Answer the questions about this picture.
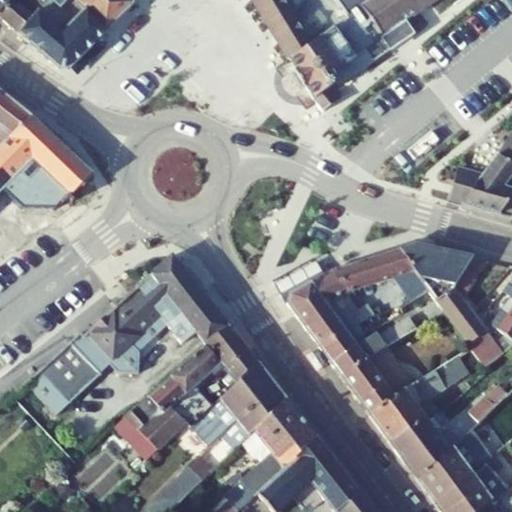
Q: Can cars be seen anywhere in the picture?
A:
Yes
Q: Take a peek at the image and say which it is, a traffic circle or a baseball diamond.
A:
traffic circle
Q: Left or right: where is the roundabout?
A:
left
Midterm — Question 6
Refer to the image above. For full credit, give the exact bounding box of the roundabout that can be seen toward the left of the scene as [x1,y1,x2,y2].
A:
[117,112,240,236]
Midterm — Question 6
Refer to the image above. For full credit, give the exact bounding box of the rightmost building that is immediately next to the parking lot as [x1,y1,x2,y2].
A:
[450,153,512,216]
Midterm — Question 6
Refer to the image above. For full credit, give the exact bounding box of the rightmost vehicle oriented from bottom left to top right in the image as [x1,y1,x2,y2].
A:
[410,130,440,157]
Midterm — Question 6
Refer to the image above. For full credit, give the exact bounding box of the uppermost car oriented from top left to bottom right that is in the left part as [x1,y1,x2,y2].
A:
[158,52,176,70]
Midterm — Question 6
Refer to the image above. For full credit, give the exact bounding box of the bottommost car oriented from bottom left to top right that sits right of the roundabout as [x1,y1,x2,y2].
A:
[328,230,347,247]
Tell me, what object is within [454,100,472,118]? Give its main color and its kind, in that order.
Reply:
white car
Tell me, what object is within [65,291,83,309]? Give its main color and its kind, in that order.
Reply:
white car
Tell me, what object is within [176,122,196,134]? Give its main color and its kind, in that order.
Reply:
white vehicle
